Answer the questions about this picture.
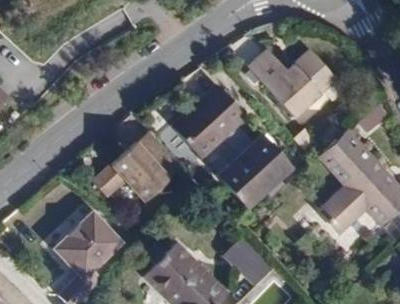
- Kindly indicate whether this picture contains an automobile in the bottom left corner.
Yes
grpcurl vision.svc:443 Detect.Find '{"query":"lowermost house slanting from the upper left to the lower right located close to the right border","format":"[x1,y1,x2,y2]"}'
[320,130,400,226]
